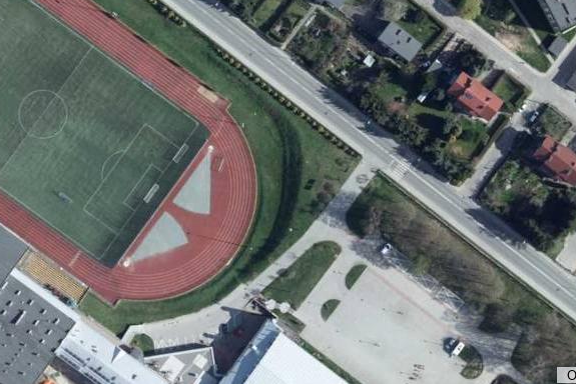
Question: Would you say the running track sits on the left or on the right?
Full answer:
You can find the running track on the left side of the picture.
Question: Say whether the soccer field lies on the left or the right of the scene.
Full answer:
The soccer field appears in the left half of the scene.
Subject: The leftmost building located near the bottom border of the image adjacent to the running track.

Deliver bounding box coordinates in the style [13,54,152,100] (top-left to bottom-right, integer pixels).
[0,278,75,384]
